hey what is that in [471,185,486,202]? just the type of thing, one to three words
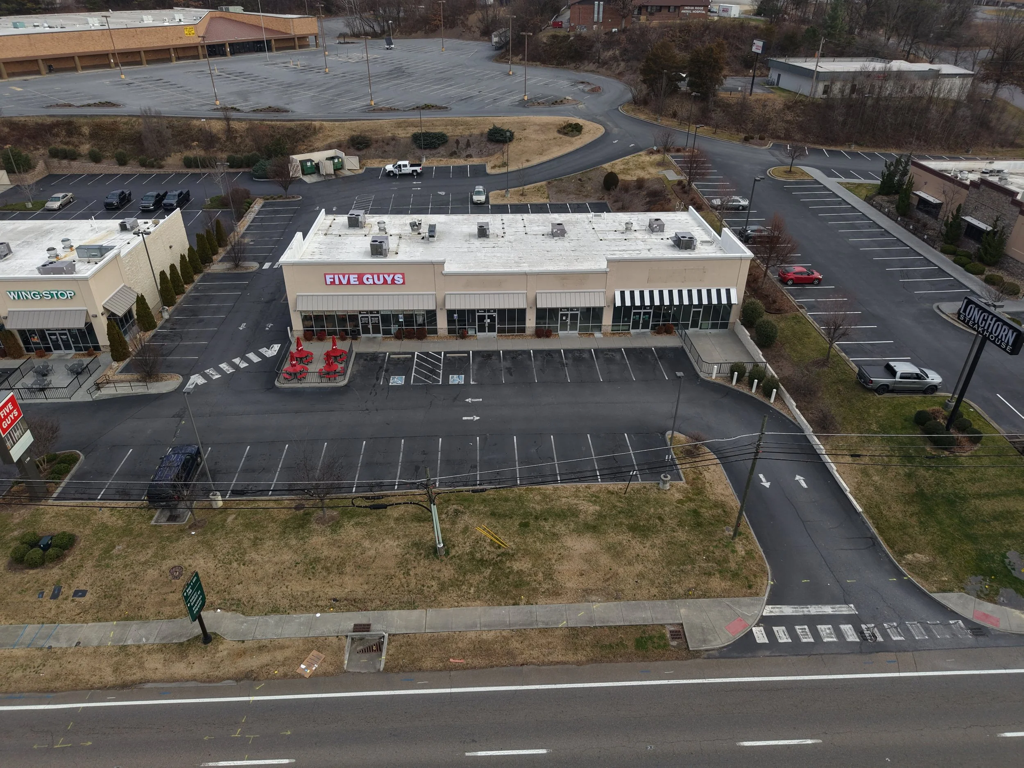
car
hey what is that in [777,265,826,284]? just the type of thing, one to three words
car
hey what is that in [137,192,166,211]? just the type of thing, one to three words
vehicle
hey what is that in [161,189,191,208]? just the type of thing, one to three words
vehicle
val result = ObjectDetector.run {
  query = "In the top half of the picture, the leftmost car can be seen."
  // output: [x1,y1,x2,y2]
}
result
[43,193,74,208]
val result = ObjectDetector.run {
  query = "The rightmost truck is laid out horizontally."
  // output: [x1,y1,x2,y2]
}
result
[850,358,946,394]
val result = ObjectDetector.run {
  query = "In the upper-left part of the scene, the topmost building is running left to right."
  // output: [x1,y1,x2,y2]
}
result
[0,8,319,79]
